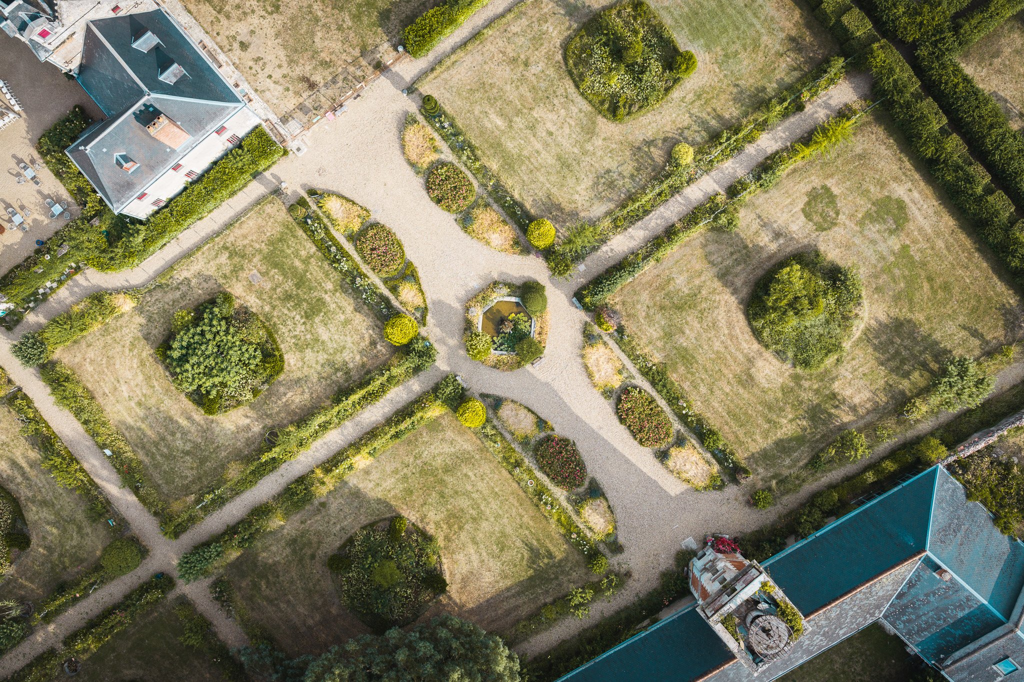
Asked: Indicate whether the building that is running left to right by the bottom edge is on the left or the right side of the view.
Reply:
right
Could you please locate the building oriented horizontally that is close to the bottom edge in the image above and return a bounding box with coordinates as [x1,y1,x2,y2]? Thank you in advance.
[549,462,1024,682]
